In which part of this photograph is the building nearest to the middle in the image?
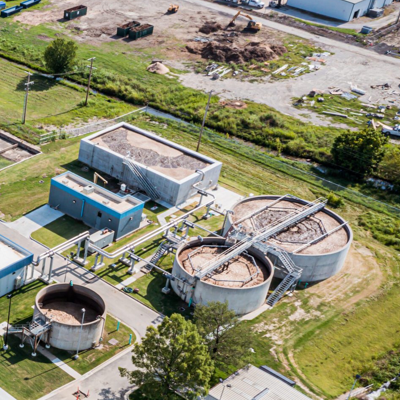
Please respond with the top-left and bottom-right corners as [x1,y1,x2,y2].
[49,170,150,243]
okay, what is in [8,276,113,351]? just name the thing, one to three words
storage tank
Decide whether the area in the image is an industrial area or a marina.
industrial area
